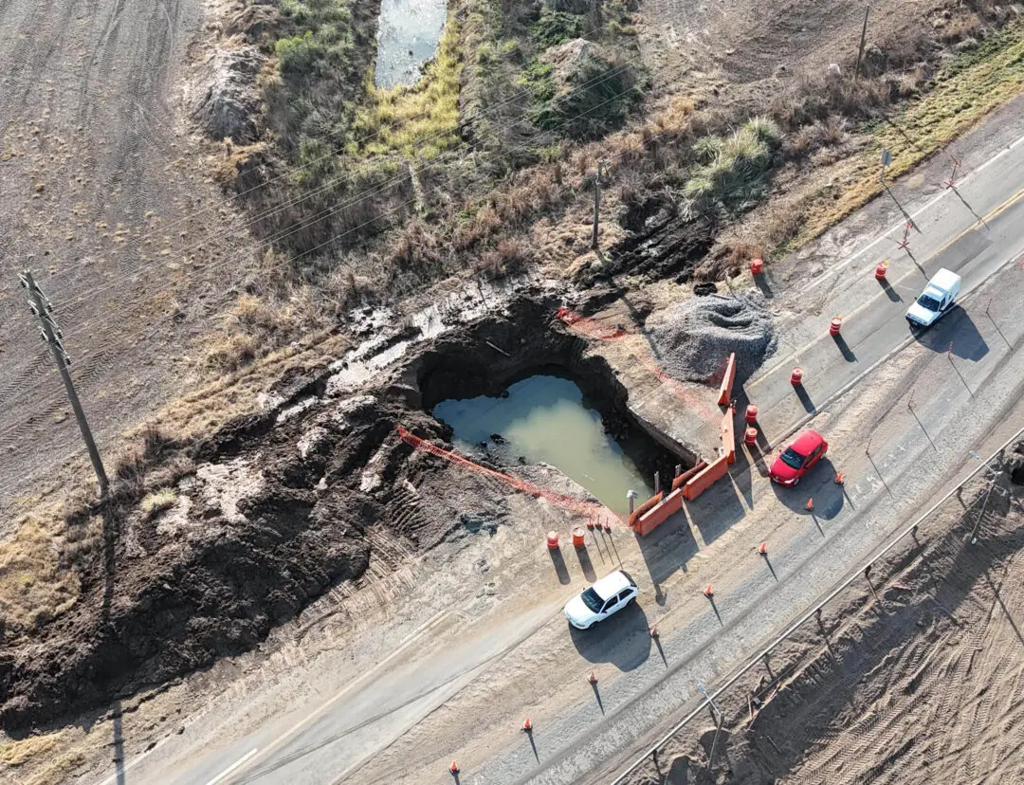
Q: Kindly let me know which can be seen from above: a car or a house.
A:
car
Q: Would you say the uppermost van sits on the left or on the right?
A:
right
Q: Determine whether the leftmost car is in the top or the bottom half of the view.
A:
bottom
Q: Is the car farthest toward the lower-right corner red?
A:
Yes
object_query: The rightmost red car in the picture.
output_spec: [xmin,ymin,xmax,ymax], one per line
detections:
[771,429,832,485]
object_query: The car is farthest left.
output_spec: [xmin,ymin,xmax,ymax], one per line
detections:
[565,569,642,629]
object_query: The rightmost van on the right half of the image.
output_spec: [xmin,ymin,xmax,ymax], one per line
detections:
[905,266,964,325]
